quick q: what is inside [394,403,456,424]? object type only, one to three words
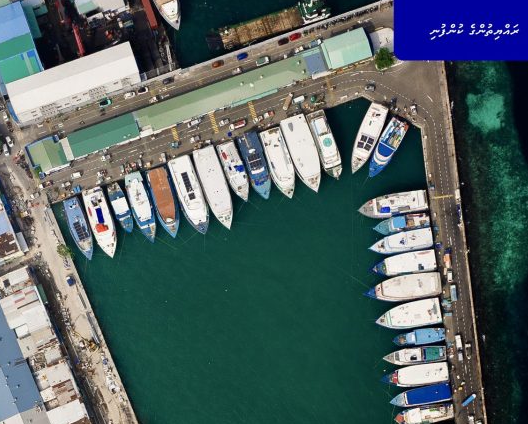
boat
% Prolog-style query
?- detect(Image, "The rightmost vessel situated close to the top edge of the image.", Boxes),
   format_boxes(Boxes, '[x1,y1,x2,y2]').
[205,0,331,51]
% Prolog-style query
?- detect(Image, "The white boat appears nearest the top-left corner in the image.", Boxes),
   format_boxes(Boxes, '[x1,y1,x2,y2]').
[153,0,186,32]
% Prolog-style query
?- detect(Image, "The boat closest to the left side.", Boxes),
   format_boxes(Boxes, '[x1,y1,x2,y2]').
[62,198,92,261]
